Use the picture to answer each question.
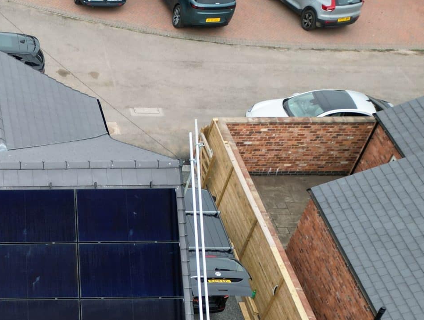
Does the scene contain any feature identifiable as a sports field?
No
